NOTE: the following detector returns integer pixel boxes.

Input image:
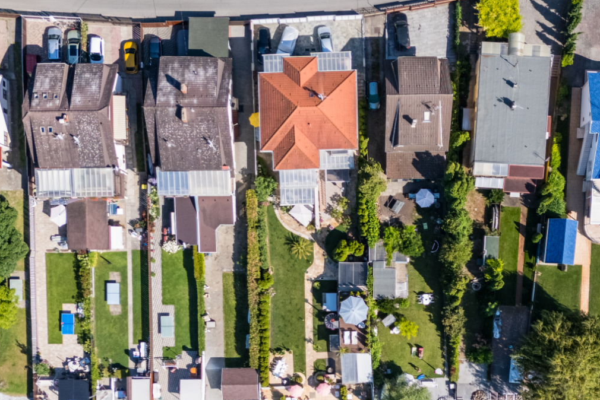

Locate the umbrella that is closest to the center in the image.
[289,205,316,228]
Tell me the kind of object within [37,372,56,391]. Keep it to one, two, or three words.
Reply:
umbrella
